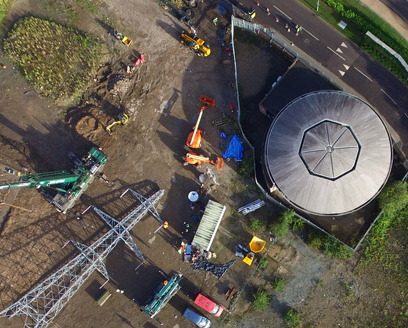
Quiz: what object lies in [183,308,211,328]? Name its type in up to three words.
vehicle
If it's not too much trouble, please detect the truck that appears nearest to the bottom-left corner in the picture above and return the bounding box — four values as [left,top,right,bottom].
[142,271,188,317]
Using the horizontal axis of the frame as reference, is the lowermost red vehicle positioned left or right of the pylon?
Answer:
to the right of it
